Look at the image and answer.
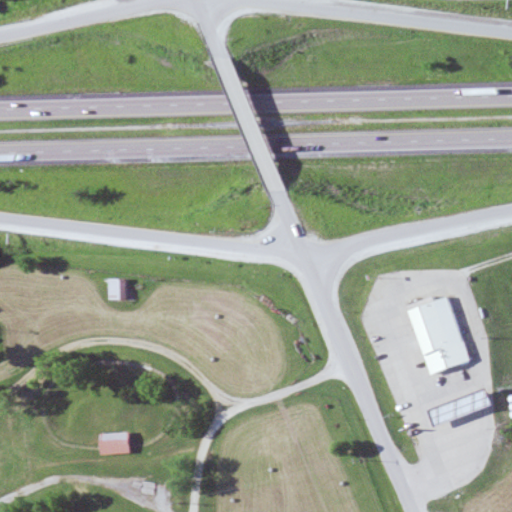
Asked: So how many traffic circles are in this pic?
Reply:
none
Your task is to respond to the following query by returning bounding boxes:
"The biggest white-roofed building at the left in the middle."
[104,278,126,301]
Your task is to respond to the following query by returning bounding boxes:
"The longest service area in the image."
[362,268,494,508]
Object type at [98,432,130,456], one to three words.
barn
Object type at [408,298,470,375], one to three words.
gas station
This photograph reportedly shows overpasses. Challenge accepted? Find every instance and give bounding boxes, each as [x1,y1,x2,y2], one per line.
[213,54,286,194]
